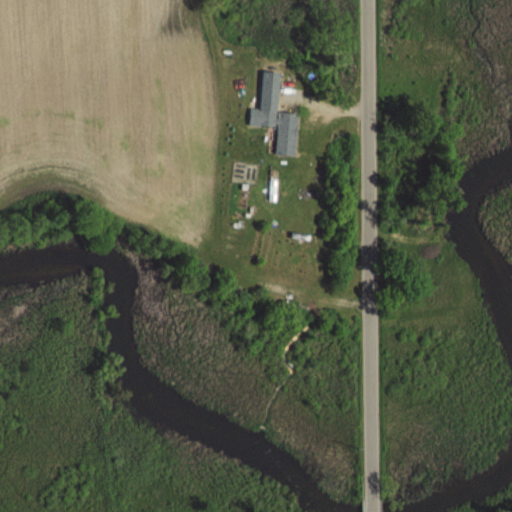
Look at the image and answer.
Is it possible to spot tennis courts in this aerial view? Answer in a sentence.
No, no tennis court is visible in the scene.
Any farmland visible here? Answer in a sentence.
Yes, some farmland is visible.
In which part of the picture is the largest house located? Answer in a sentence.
The largest house appears toward the top of the photo.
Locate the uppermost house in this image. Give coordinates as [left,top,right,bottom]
[248,70,282,127]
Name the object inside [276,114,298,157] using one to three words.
building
